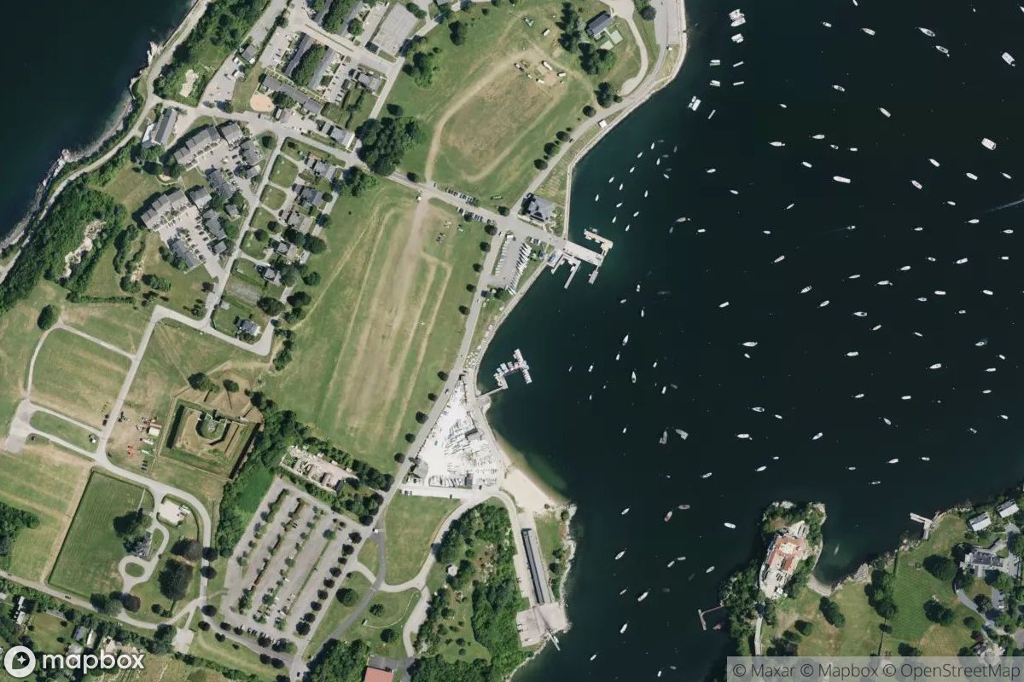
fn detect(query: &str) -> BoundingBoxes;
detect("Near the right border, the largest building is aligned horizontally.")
[967,551,1010,570]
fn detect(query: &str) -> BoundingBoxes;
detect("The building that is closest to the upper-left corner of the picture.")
[141,107,179,147]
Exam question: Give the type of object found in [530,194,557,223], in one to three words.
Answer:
building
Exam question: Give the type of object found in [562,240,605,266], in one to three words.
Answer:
pier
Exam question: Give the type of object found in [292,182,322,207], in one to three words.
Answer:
house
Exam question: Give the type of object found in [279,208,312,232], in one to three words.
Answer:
house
